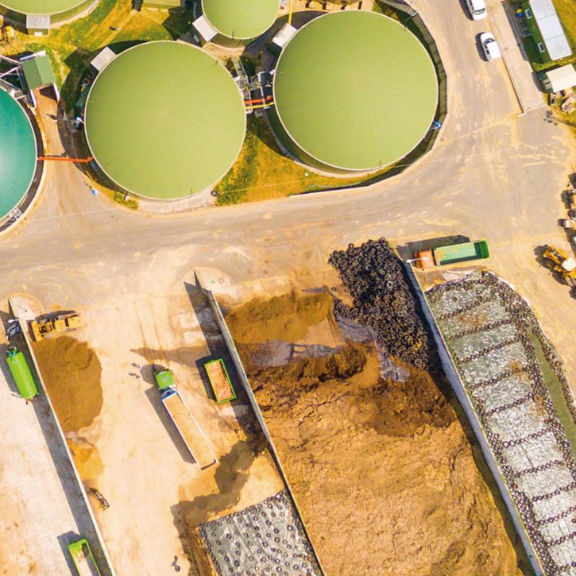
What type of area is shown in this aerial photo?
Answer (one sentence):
The area seen from above is an industrial area.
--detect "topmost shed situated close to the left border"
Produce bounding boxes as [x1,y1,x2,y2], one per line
[26,15,51,36]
